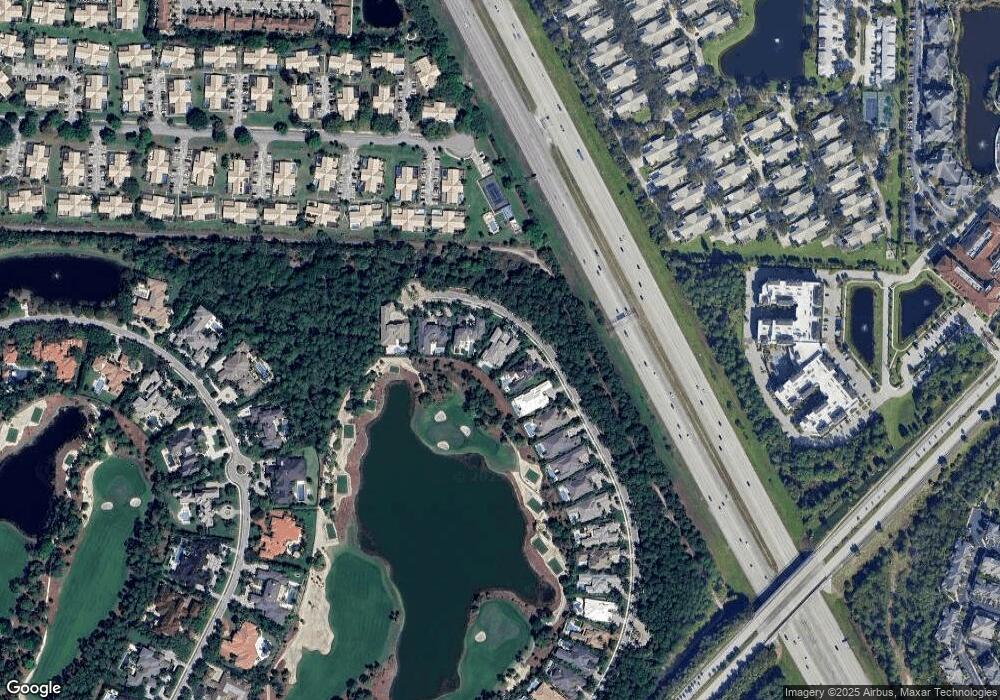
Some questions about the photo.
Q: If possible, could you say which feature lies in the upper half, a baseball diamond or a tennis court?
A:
tennis court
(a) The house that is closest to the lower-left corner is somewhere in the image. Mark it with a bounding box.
[125,643,167,691]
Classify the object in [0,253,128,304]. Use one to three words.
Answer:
pond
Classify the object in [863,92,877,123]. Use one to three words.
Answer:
tennis court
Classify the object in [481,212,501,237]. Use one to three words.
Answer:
swimming pool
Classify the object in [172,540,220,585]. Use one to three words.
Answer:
house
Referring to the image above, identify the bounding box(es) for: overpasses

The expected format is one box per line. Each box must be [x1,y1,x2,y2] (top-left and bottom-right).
[747,550,841,644]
